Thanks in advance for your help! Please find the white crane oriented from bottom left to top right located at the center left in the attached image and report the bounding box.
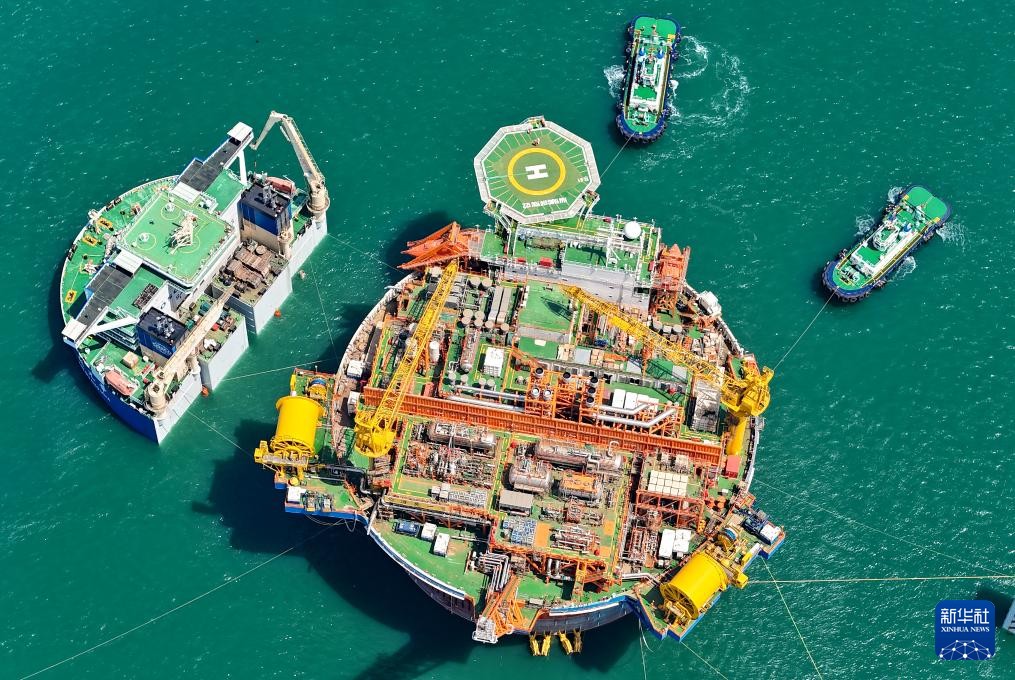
[143,287,245,408]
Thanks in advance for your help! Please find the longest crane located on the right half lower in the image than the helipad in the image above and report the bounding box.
[558,282,779,458]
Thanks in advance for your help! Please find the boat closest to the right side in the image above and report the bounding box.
[823,186,956,305]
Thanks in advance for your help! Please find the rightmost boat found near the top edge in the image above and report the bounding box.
[617,16,677,144]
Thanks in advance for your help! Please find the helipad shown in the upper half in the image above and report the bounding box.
[474,112,604,239]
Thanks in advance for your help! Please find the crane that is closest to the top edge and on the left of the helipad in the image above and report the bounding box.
[251,107,330,216]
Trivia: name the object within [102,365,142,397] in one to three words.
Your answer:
boat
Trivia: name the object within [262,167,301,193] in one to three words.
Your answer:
boat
